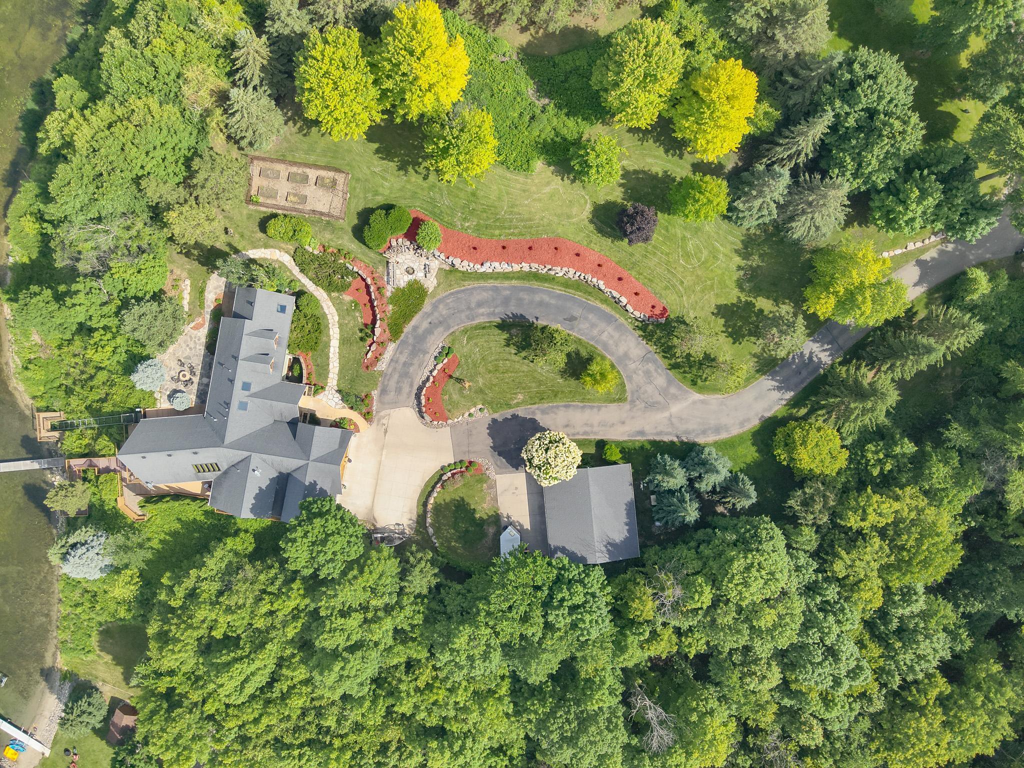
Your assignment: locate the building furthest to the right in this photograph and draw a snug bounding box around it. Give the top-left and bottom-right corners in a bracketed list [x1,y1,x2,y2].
[541,463,640,565]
